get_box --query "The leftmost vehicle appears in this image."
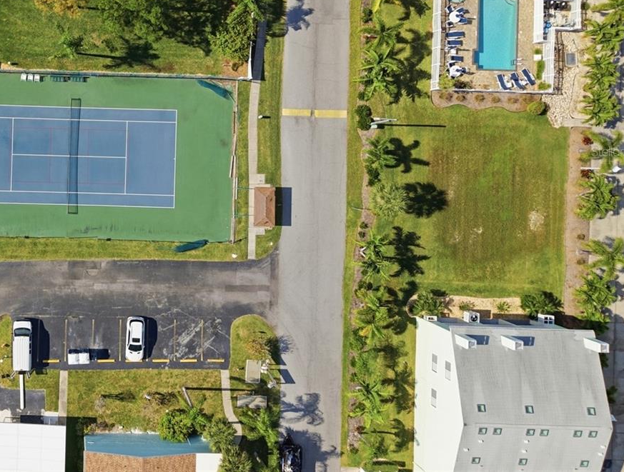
[8,320,36,379]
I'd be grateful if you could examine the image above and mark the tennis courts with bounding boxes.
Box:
[0,73,239,243]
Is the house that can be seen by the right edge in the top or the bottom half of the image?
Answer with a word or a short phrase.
bottom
